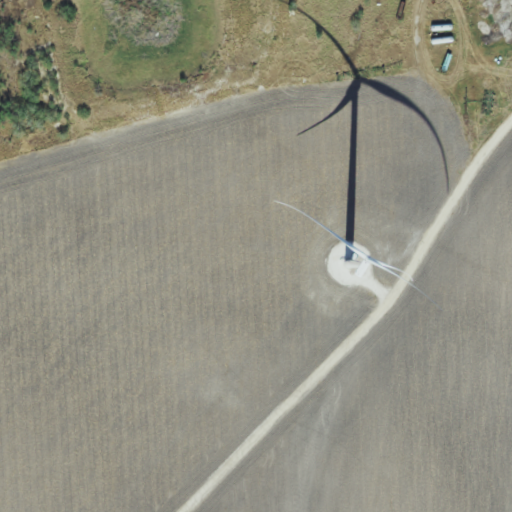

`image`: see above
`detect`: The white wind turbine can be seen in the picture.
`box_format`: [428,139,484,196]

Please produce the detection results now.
[271,200,462,326]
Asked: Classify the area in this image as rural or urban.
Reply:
rural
